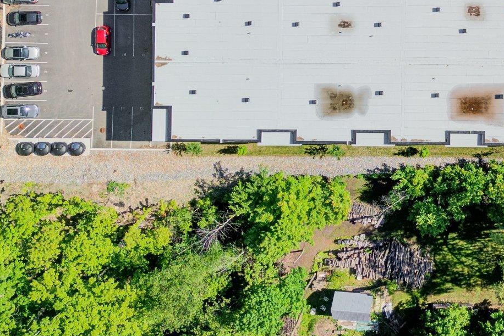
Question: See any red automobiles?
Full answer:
Yes, the image includes a red automobile.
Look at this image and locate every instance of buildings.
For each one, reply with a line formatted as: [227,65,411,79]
[330,283,377,323]
[153,0,504,146]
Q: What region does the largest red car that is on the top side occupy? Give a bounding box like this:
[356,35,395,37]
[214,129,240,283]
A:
[93,24,112,56]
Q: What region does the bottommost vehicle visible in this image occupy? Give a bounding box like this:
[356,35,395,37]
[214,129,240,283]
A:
[1,103,39,120]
